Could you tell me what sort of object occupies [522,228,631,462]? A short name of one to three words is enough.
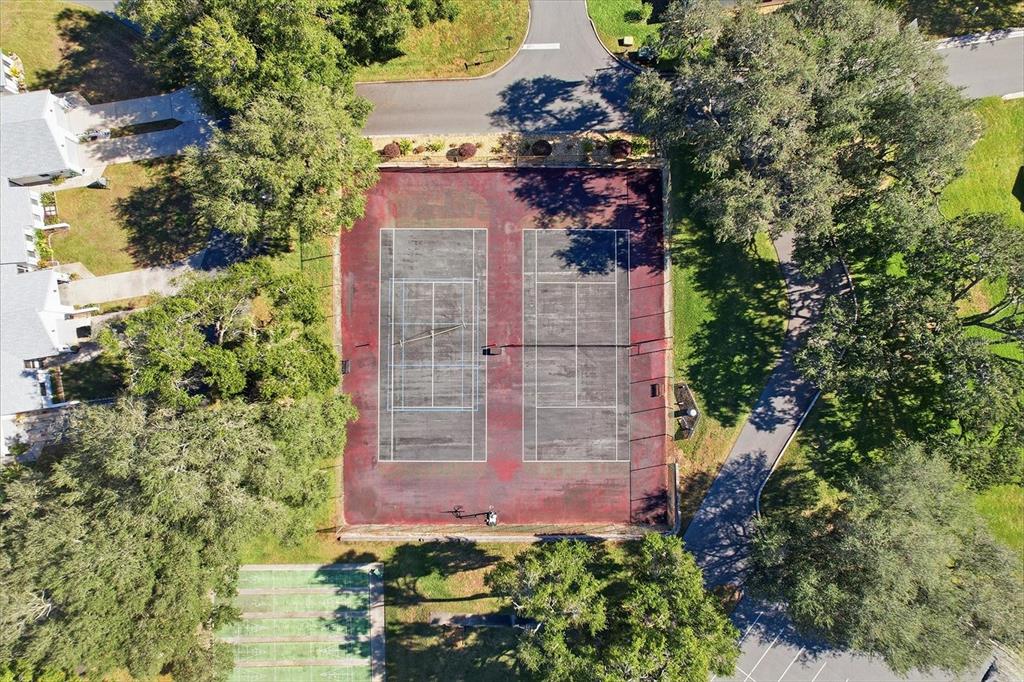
tennis court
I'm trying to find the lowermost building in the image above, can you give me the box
[0,245,75,416]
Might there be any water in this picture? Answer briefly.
No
